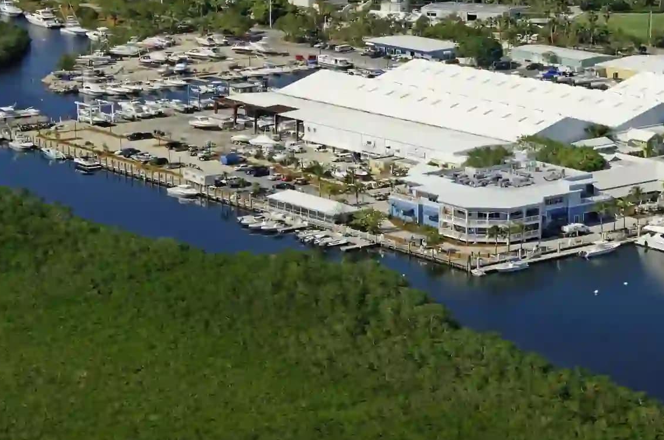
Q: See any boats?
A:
Yes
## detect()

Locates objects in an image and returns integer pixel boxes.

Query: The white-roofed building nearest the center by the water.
[256,187,363,228]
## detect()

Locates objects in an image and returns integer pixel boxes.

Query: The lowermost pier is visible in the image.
[473,252,599,280]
